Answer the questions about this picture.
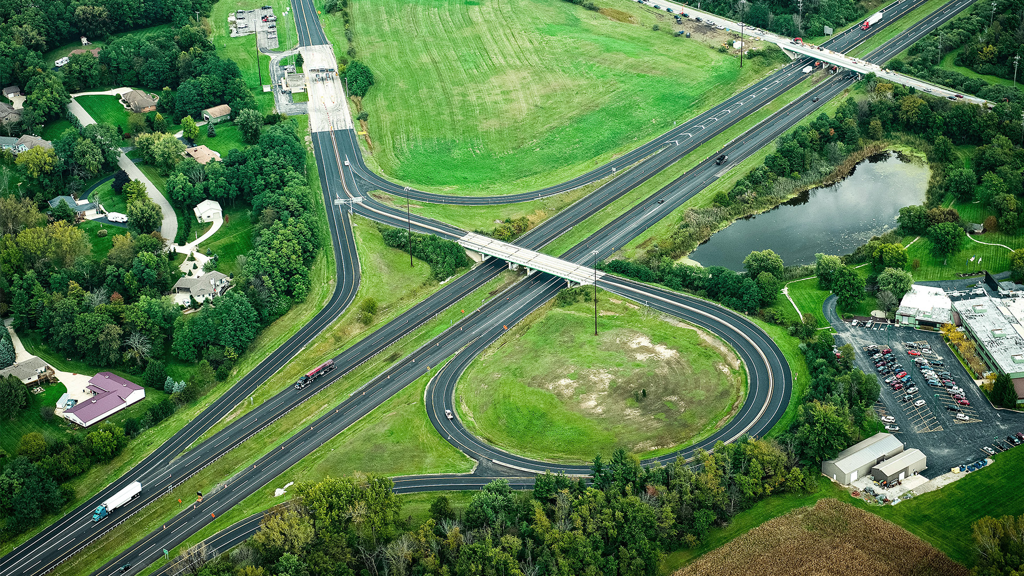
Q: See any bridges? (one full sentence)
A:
Yes, you can see a bridge in this photo.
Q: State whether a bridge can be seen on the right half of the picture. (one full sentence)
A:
Yes, a bridge appears on the right half of the picture.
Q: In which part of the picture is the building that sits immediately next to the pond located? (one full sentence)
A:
The building that sits immediately next to the pond is in the right part of the image.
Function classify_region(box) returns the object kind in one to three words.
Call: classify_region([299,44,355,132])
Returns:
toll station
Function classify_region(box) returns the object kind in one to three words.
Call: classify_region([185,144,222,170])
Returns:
house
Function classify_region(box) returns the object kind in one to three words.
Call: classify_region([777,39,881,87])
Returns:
bridge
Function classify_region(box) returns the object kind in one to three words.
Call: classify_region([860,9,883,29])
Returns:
vehicle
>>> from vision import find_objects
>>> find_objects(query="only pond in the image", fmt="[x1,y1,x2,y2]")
[691,151,931,268]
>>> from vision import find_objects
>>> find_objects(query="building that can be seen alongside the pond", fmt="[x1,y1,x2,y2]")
[895,265,1024,410]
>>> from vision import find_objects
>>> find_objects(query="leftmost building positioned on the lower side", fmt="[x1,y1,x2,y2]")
[0,357,58,391]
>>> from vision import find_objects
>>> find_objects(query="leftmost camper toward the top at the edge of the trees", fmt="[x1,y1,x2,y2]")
[53,55,70,67]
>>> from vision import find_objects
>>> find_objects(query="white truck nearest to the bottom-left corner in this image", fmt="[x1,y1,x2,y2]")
[92,480,140,519]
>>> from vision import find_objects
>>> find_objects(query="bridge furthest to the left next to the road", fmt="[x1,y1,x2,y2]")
[455,229,606,283]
